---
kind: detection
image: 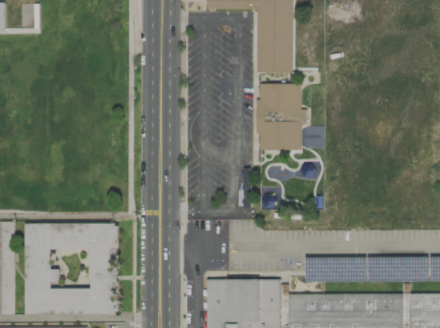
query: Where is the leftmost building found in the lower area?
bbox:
[2,222,14,314]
